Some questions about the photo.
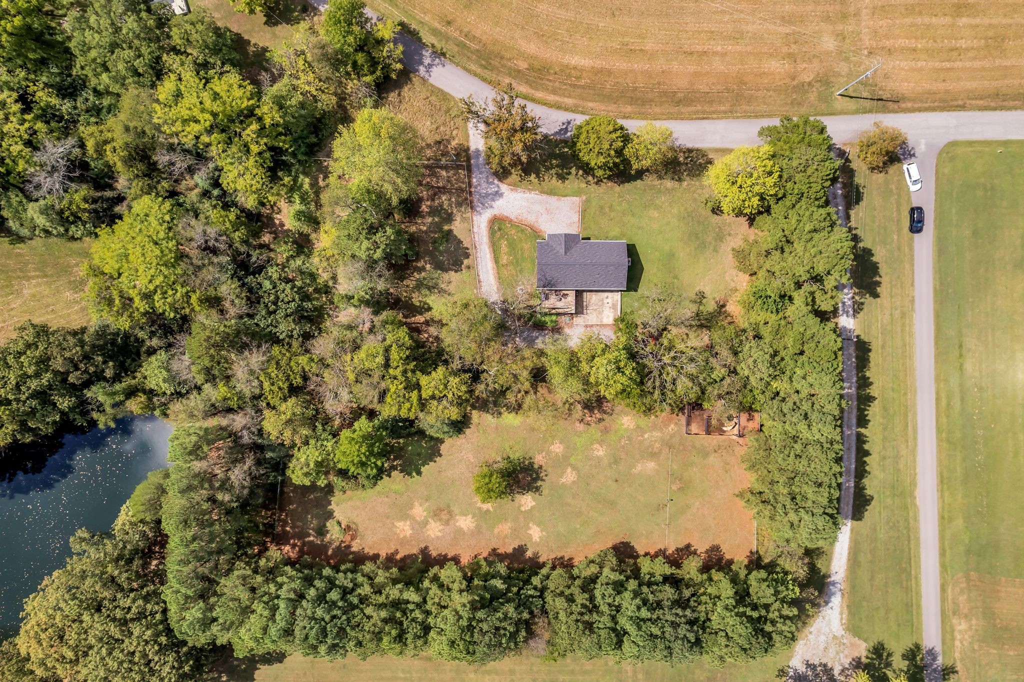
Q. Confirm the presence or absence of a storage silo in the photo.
No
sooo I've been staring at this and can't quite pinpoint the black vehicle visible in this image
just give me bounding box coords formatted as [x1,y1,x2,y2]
[907,206,924,234]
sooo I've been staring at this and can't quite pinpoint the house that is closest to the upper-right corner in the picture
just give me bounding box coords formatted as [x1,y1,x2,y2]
[537,232,629,290]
